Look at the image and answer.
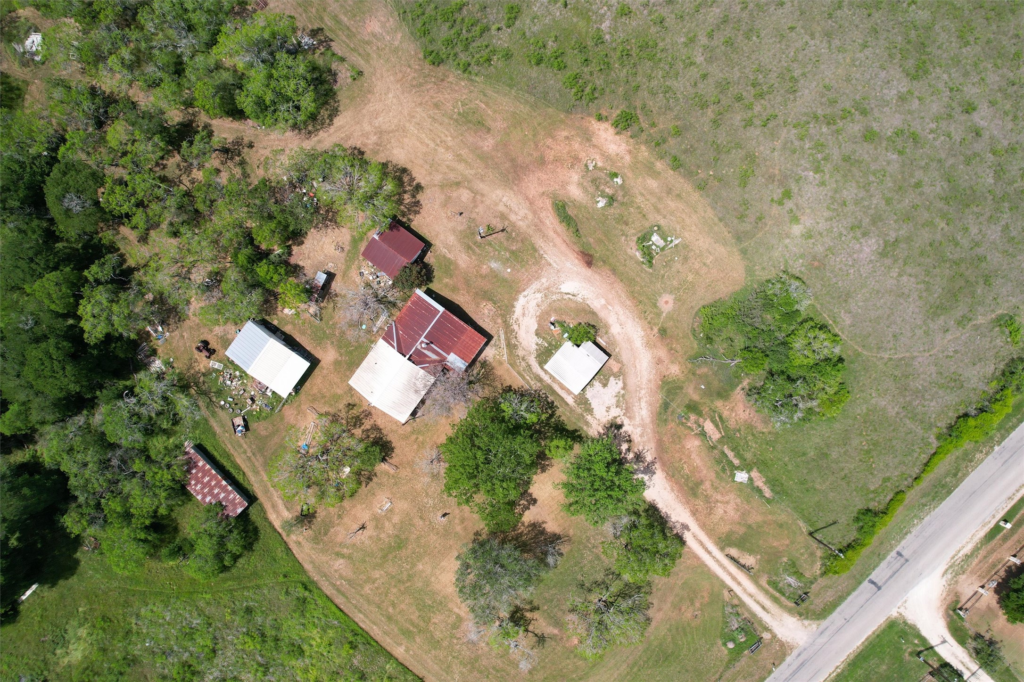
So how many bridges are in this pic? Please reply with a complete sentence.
The picture shows no bridges.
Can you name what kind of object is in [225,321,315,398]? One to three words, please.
building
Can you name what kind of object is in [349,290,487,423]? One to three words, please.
house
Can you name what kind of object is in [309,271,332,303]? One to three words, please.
shed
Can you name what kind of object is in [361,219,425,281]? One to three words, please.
house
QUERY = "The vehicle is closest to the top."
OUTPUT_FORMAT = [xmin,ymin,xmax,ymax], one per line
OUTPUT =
[192,339,216,361]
